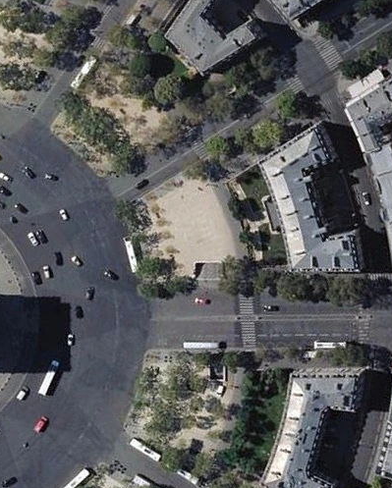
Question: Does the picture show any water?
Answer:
No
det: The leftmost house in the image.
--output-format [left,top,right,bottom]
[164,0,260,72]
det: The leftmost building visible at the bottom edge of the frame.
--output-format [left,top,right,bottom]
[262,371,362,488]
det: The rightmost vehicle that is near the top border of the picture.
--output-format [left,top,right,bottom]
[126,10,139,27]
